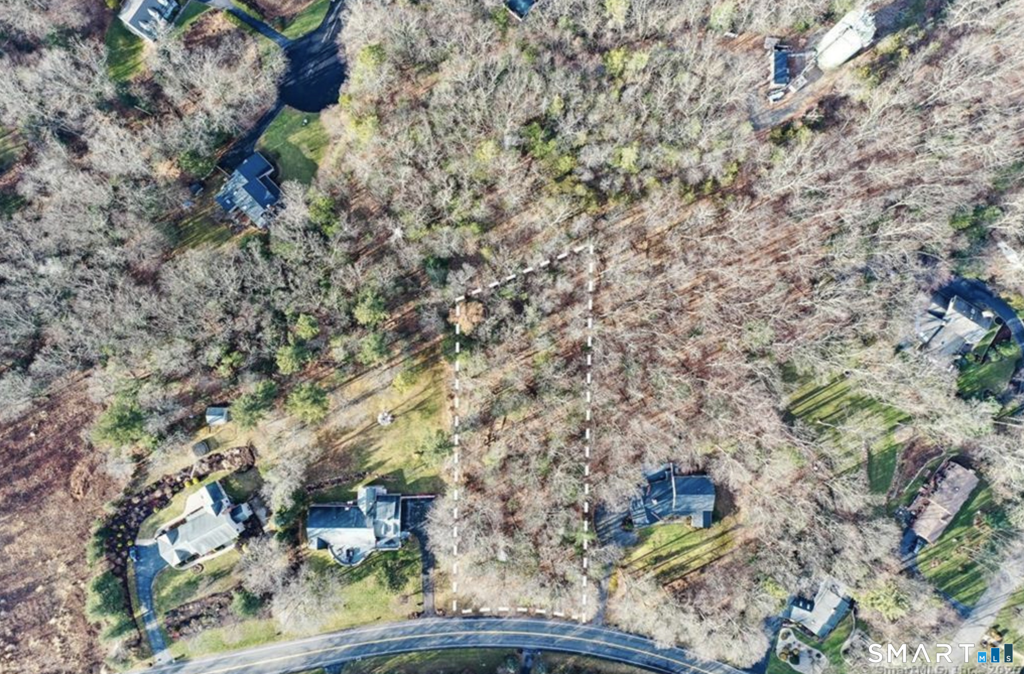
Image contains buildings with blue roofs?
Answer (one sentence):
Yes, there's a building with a blue roof here.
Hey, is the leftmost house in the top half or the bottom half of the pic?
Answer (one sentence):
The leftmost house is in the top half of the image.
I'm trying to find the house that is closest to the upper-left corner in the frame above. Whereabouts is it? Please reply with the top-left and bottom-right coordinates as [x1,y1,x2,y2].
[118,0,195,48]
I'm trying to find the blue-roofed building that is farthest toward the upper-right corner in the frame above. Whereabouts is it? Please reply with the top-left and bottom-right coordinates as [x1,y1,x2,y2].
[770,50,790,89]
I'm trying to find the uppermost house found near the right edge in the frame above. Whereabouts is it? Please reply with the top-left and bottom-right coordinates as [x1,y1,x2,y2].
[915,293,991,360]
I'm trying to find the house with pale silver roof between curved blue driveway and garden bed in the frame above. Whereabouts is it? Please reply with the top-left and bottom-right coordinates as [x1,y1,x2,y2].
[158,480,258,564]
